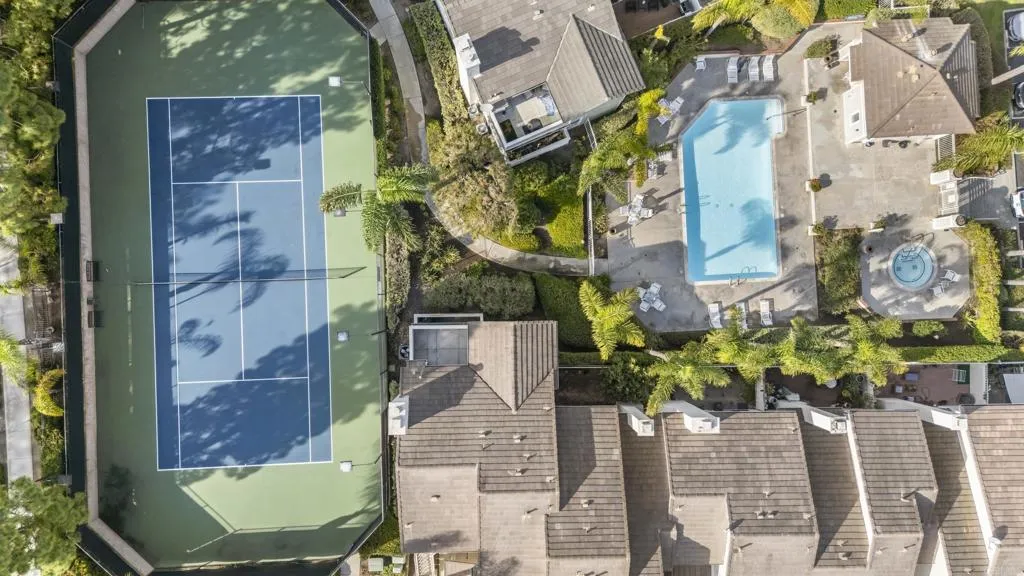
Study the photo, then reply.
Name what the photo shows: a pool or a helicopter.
pool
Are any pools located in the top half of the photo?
Yes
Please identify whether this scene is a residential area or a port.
residential area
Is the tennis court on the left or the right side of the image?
left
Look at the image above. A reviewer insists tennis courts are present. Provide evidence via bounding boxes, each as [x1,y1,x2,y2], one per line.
[86,0,392,571]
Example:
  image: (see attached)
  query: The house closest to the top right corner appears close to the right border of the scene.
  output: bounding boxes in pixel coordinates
[833,23,981,146]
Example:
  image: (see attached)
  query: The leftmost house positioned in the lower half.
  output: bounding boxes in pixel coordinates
[388,312,559,576]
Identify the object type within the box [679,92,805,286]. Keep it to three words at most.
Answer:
swimming pool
